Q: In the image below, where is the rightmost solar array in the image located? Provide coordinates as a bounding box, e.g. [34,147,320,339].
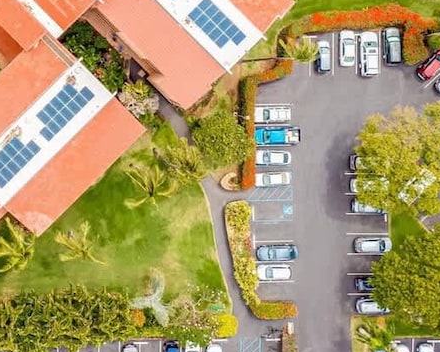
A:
[182,0,246,47]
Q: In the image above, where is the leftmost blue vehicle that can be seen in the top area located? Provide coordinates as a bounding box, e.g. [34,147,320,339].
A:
[258,128,302,145]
